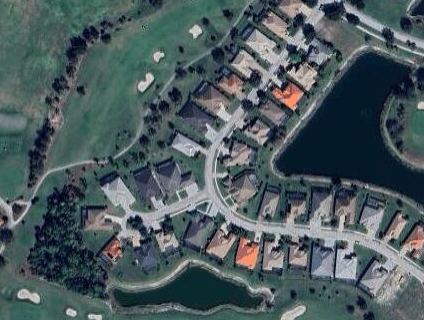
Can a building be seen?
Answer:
Yes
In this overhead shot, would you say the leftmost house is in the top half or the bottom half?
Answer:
bottom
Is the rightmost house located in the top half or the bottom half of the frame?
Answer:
bottom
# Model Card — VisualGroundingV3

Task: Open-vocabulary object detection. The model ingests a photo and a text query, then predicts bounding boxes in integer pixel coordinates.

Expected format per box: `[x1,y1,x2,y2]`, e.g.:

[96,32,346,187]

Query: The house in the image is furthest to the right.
[401,222,424,253]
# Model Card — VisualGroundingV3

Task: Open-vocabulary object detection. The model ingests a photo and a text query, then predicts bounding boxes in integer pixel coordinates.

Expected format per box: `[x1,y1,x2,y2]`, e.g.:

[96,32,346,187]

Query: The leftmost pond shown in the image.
[111,263,265,311]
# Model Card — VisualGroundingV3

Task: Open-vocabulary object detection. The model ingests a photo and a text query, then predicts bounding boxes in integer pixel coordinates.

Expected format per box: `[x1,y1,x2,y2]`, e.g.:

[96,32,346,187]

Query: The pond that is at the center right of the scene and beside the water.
[274,49,424,208]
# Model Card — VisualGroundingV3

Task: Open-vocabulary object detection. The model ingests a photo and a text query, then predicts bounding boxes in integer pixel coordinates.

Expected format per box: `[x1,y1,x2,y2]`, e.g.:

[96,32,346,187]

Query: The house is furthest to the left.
[79,207,109,229]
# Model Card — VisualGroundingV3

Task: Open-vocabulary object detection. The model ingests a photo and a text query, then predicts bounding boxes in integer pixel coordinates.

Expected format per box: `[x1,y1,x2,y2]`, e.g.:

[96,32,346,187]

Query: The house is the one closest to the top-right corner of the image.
[308,41,331,66]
